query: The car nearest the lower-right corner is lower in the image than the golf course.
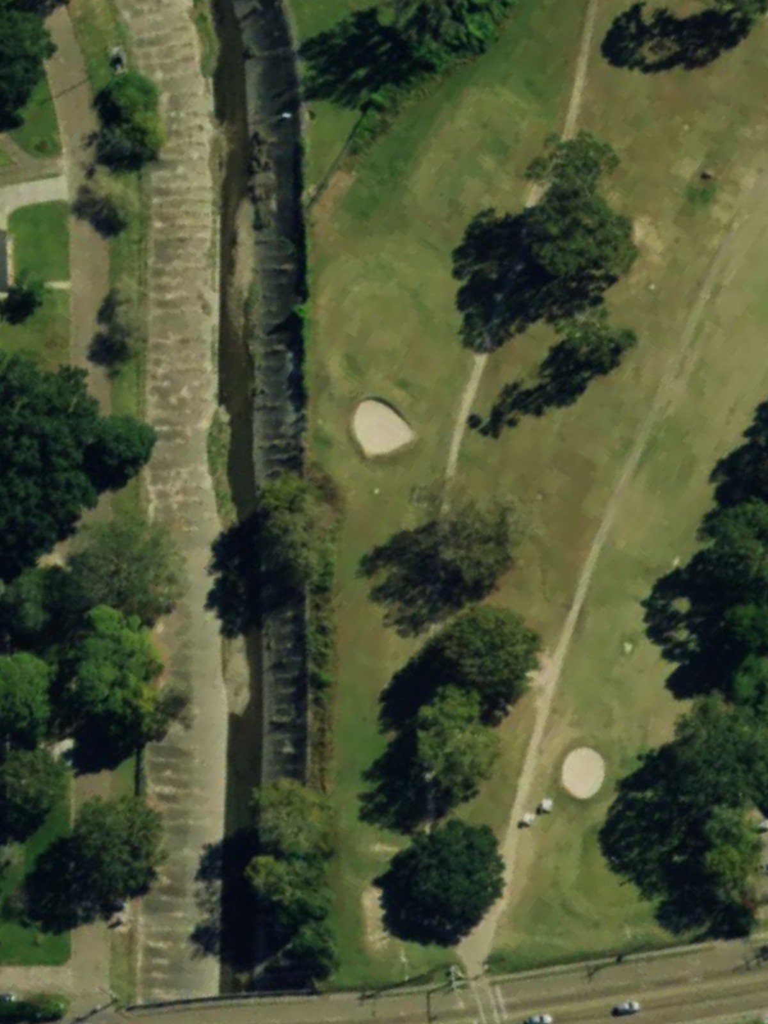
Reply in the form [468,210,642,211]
[612,1001,643,1016]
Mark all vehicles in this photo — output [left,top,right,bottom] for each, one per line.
[523,811,534,825]
[540,798,552,811]
[522,1013,553,1024]
[612,1001,643,1016]
[760,822,768,830]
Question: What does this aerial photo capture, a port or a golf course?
golf course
